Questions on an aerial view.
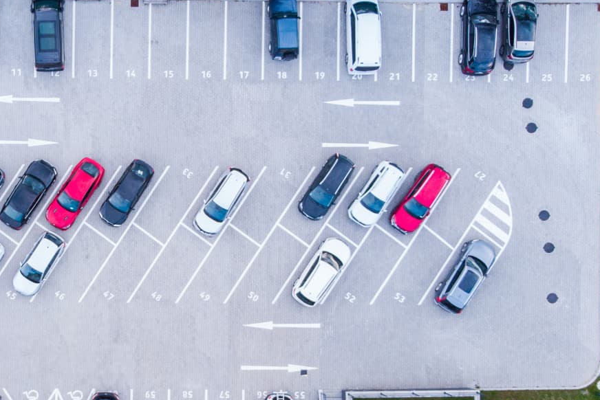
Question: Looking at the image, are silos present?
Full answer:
No, the scene contains no silo.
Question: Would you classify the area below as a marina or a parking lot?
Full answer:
This looks like a parking lot.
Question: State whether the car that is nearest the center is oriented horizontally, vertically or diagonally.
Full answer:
In this picture, the car that is nearest the center lies diagonally.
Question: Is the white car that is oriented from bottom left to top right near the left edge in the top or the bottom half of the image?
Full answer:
The white car that is oriented from bottom left to top right near the left edge is in the bottom half of the image.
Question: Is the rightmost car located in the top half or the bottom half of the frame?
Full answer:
The rightmost car is in the top half of the image.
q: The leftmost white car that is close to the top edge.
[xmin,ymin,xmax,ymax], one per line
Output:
[345,0,385,75]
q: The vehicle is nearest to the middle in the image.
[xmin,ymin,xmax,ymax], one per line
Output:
[296,152,355,221]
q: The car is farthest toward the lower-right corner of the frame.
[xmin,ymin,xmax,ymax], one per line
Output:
[431,237,494,316]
